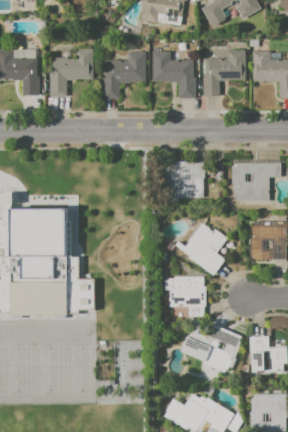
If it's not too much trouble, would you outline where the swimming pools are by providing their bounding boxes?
[14,22,40,34]
[124,2,142,26]
[166,220,188,238]
[216,390,238,407]
[276,180,288,203]
[0,0,12,10]
[170,348,184,374]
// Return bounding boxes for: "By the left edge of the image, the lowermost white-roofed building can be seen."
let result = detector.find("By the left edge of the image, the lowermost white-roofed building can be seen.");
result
[0,192,95,318]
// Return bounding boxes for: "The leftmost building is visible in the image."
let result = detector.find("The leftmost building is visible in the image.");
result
[0,49,40,95]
